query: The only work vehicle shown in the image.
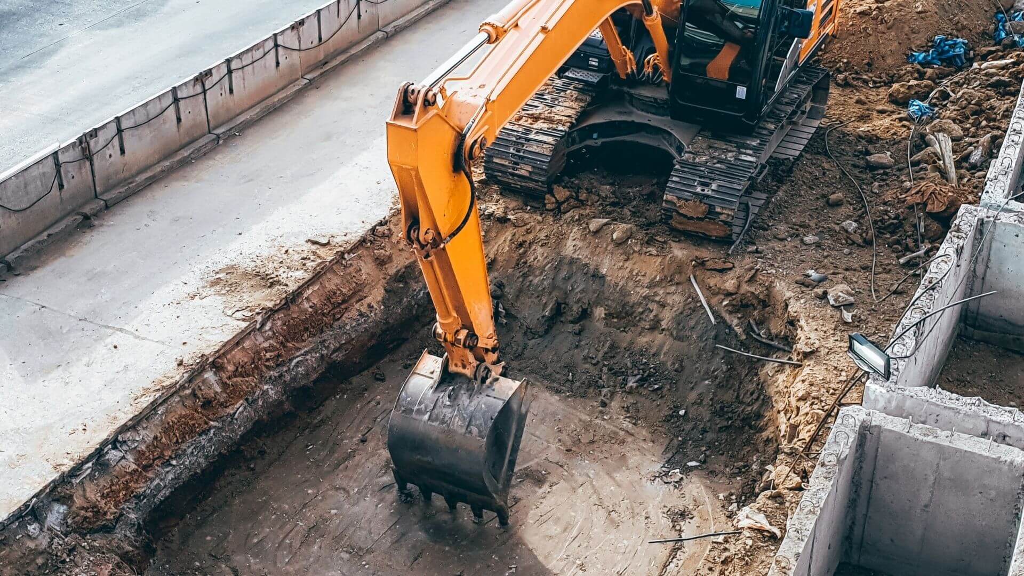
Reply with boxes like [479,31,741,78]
[378,0,849,526]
